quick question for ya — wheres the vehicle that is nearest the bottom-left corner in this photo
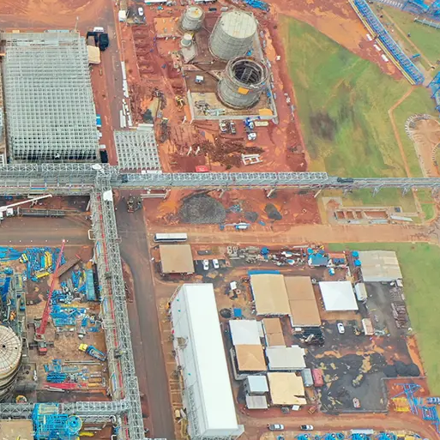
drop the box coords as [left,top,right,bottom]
[81,342,108,361]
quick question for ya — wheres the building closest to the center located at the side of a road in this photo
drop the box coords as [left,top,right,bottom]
[157,245,192,279]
